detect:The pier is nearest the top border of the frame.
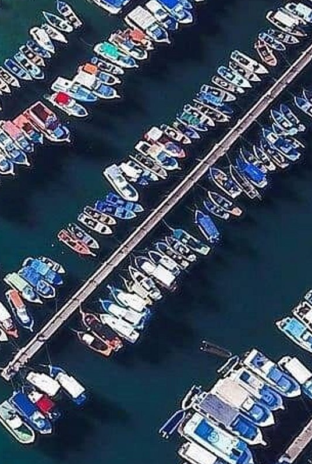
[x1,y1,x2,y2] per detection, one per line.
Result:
[0,39,312,385]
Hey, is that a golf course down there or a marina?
marina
